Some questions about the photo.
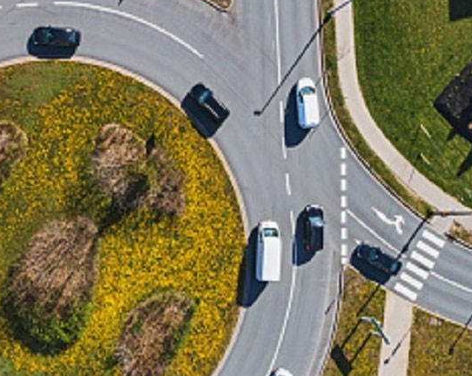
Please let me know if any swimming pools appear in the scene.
No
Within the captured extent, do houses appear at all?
No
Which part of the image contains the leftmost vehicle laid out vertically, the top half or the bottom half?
bottom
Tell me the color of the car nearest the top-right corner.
white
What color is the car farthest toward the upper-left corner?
black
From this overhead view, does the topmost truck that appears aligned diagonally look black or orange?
black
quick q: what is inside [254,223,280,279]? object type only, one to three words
vehicle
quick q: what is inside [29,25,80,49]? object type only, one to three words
car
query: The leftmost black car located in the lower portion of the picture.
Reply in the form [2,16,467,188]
[301,205,324,251]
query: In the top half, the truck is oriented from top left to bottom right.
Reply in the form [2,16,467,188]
[186,82,232,128]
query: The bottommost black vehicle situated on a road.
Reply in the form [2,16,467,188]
[351,246,399,278]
